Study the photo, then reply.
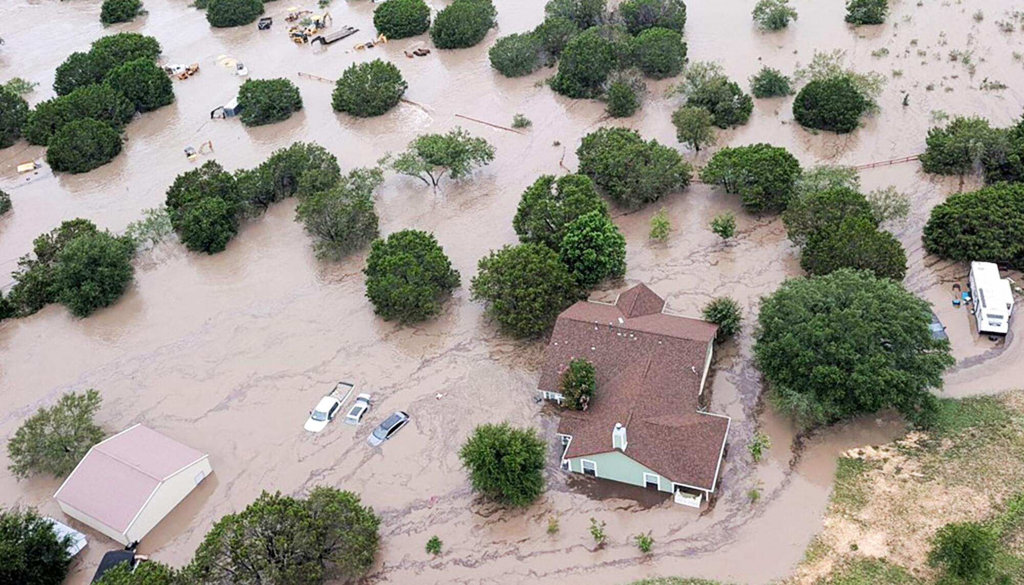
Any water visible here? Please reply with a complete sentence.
Yes, there's water in this view.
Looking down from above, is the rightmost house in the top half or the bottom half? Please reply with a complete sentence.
The rightmost house is in the bottom half of the image.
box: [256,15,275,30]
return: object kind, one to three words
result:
vehicle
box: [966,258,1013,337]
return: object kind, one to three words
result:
vehicle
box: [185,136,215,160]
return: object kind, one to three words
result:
work vehicle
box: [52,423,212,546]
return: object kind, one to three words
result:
building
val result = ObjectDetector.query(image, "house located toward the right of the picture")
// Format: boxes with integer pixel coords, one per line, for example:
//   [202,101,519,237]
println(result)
[538,282,732,504]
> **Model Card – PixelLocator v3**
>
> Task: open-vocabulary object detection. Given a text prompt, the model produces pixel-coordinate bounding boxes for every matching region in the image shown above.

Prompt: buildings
[538,282,732,504]
[52,423,212,546]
